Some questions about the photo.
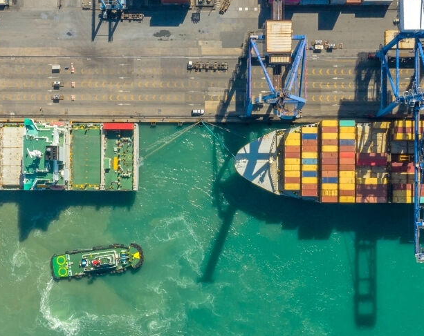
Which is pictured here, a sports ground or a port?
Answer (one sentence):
What you see here is a port.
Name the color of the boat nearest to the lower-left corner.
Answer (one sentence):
From above, the boat nearest to the lower-left corner appears green.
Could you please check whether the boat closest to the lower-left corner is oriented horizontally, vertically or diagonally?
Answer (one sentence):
The boat closest to the lower-left corner has been laid out horizontally relative to the frame.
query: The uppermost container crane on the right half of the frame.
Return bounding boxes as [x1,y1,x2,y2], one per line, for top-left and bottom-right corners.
[236,0,307,118]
